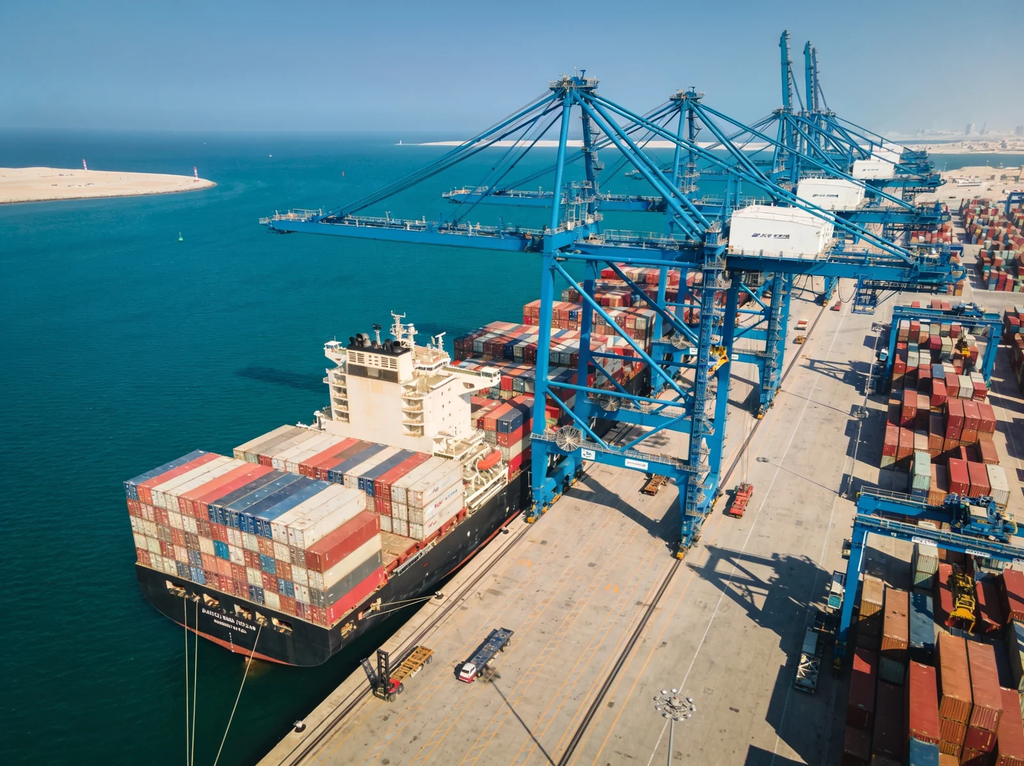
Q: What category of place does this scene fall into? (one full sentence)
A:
What you see here is a port.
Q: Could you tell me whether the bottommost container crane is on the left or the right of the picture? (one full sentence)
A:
The bottommost container crane sits on the right side.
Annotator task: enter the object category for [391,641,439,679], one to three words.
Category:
trailer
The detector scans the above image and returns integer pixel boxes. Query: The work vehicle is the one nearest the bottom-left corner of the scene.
[364,652,408,705]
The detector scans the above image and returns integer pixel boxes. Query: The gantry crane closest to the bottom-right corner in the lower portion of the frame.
[828,476,1024,676]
